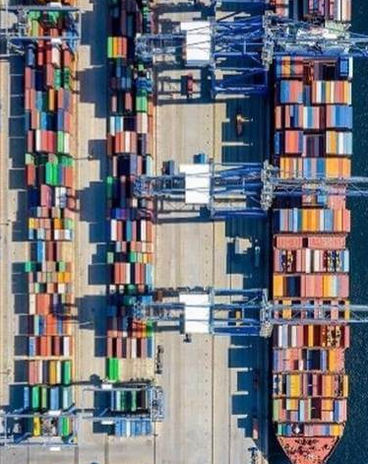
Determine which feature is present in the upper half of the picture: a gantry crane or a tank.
gantry crane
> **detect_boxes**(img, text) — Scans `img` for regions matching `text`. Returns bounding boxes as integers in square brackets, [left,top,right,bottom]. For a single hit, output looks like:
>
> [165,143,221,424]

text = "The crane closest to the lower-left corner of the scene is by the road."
[5,407,85,451]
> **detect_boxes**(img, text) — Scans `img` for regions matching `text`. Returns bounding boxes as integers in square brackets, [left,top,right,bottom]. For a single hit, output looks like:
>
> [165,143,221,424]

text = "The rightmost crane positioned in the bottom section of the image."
[137,282,368,344]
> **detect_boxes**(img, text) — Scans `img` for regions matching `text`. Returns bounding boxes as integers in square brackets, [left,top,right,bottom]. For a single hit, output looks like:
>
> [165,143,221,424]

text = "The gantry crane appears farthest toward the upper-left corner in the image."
[7,0,89,44]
